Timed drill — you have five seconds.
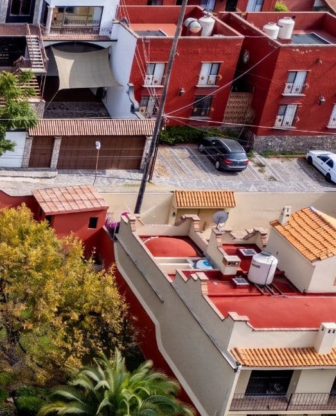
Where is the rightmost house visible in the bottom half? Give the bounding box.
[110,189,336,416]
